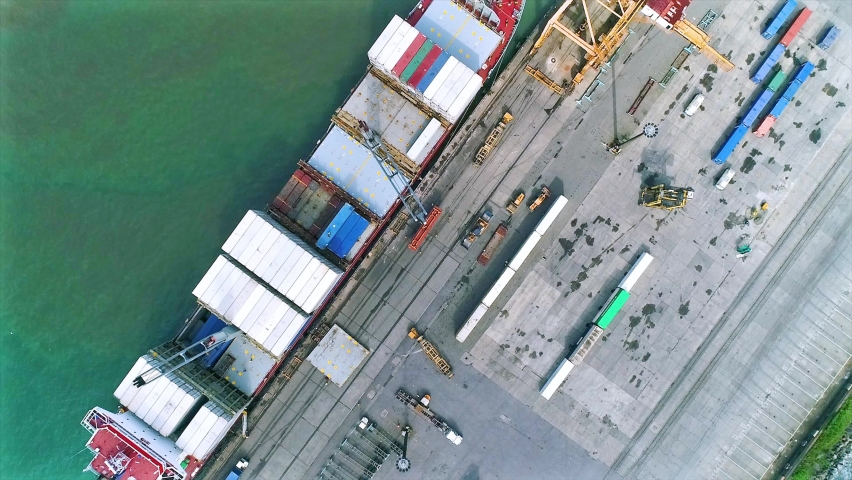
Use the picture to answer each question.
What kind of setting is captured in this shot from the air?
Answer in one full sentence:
What you see here is a port.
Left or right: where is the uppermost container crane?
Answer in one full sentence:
The uppermost container crane is on the right side of the image.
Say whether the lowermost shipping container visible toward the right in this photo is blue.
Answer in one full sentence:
No, the lowermost shipping container visible toward the right is actually white.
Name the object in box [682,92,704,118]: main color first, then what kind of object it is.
white vehicle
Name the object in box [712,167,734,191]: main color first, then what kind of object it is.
white vehicle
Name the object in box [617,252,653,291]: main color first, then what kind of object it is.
white shipping container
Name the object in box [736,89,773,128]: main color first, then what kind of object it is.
blue shipping container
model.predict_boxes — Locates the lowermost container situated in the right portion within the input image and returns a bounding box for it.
[542,355,576,397]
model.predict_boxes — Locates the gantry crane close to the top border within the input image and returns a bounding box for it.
[522,0,738,96]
